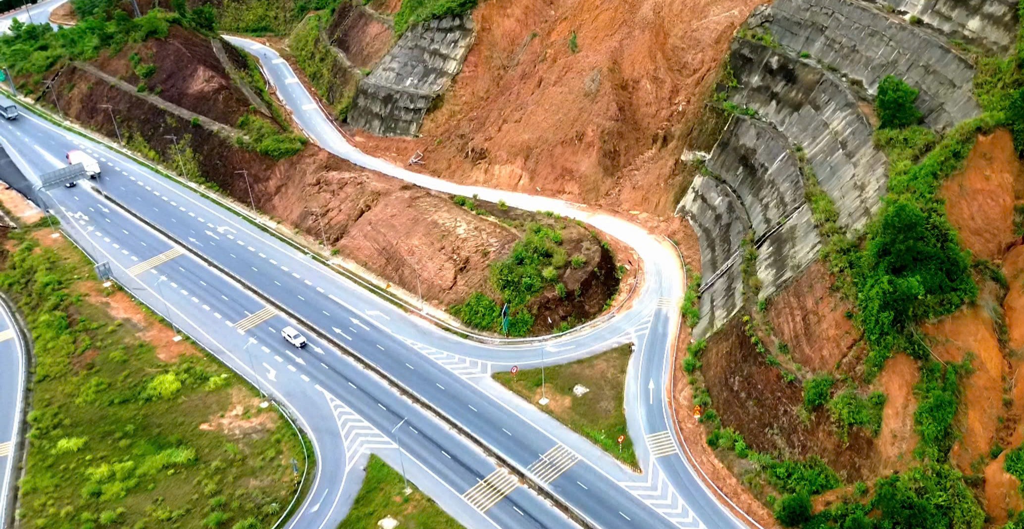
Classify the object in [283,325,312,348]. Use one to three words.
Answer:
truck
